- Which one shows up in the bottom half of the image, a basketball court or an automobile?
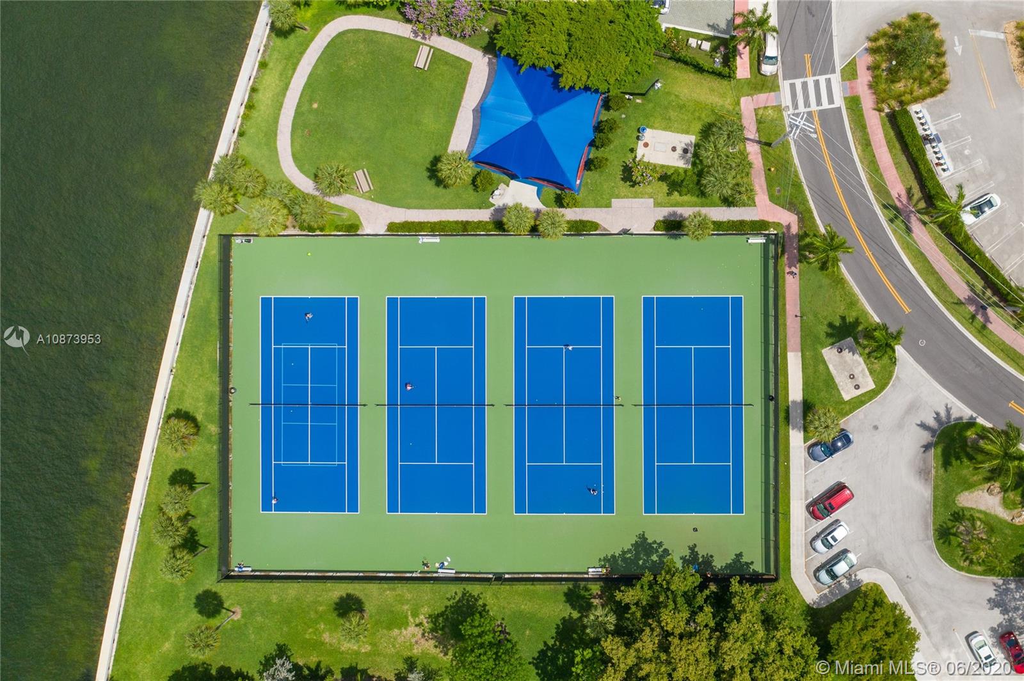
automobile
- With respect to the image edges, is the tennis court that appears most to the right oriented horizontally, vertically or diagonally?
vertically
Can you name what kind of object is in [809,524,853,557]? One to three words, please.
car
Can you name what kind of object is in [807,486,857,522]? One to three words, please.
car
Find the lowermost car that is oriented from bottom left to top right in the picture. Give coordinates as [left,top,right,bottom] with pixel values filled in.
[813,553,860,588]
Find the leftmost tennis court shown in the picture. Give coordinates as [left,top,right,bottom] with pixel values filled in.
[260,297,359,514]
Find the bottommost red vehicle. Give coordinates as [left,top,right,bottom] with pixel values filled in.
[997,633,1024,680]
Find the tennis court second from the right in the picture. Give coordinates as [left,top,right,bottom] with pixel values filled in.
[514,296,615,515]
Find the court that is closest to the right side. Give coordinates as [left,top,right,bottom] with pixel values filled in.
[642,296,744,515]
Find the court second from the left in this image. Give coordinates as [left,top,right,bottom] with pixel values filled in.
[386,296,487,514]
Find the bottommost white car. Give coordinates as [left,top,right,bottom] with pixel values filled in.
[967,634,1000,680]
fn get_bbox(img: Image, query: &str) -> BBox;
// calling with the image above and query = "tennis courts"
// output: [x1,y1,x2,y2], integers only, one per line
[642,296,744,515]
[386,296,487,514]
[514,296,615,515]
[260,297,359,514]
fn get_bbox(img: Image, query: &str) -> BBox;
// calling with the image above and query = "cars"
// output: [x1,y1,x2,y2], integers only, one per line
[813,553,860,588]
[807,432,855,464]
[962,191,1006,223]
[758,27,781,77]
[807,486,857,522]
[967,634,1000,680]
[809,524,853,557]
[997,633,1024,680]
